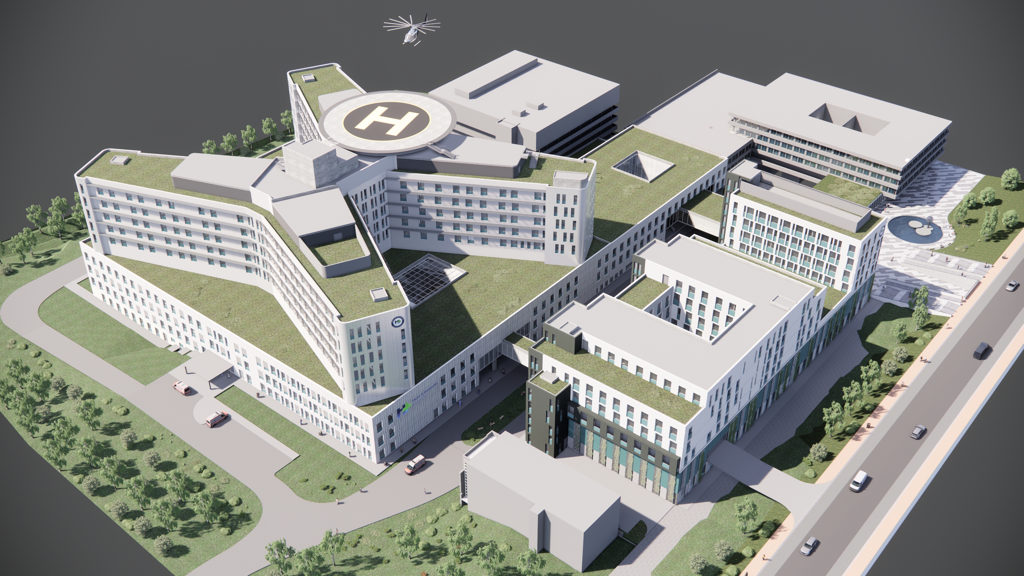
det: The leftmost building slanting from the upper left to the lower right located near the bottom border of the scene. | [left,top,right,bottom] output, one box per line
[456,429,621,573]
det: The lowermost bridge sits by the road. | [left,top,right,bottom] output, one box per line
[707,441,837,530]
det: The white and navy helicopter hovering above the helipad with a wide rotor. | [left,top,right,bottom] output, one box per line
[384,14,441,46]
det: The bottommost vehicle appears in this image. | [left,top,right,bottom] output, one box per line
[801,539,818,557]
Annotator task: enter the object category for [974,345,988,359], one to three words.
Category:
vehicle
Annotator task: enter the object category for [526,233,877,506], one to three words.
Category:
building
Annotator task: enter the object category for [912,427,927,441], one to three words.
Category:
car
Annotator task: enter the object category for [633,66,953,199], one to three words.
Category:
building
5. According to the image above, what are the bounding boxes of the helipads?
[319,90,458,158]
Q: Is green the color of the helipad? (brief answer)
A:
No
